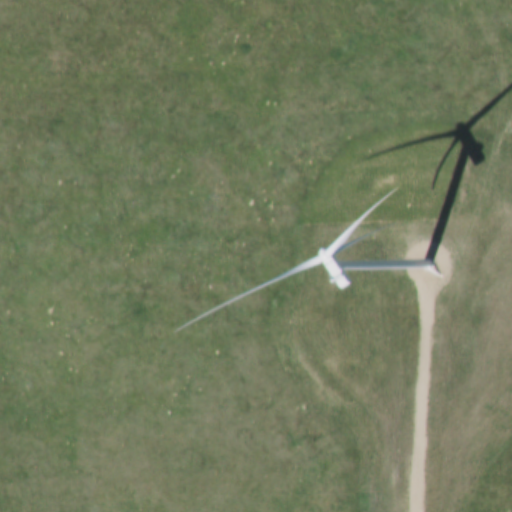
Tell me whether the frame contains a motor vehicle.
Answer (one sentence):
No, there's no motor vehicle here.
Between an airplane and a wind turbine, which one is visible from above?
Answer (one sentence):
The image shows a wind turbine.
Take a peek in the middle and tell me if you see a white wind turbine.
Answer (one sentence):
Yes, I can see a white wind turbine in the middle.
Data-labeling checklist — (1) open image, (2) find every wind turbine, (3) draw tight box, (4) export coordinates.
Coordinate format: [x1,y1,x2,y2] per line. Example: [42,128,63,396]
[176,188,444,330]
